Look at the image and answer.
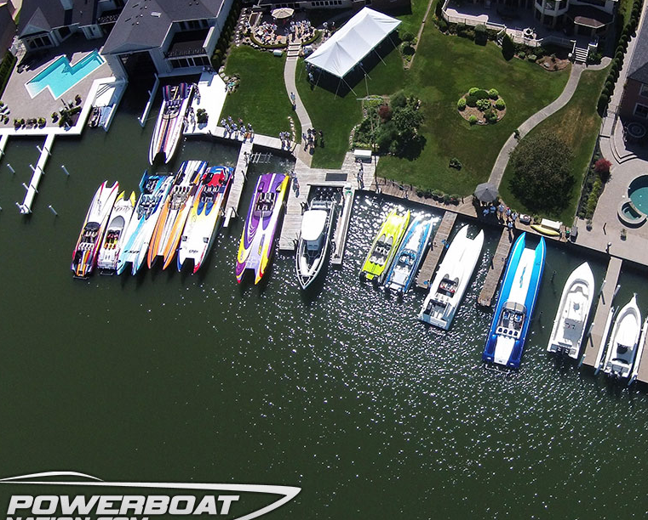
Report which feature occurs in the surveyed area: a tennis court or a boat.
boat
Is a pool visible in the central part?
No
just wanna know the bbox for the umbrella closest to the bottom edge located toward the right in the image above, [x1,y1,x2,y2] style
[475,181,501,202]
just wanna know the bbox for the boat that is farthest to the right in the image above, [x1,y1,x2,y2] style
[603,290,641,383]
